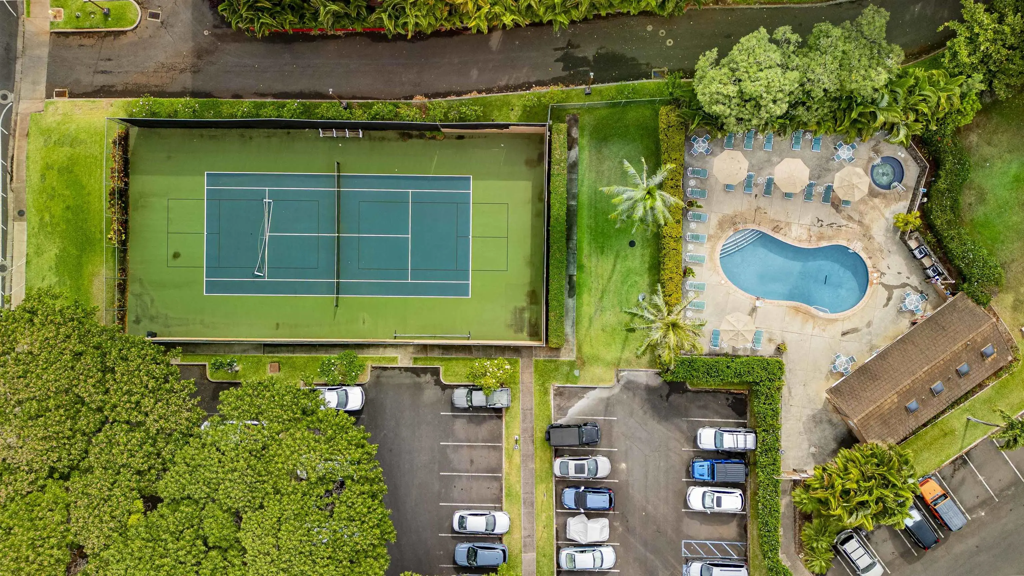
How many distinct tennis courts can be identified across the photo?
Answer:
one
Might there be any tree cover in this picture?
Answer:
Yes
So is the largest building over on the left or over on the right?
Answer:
right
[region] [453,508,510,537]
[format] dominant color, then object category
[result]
white car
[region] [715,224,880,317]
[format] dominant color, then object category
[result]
blue swimming pool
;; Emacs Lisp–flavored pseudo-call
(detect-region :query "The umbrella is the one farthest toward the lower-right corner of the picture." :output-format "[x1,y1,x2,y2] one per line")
[719,312,755,347]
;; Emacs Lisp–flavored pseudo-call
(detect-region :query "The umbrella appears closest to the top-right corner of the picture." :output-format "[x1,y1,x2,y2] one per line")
[833,167,868,201]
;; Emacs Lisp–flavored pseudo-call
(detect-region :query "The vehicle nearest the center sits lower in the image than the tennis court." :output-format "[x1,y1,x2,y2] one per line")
[452,386,512,410]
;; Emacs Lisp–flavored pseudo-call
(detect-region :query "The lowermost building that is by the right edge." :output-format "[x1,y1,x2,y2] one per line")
[823,291,1012,451]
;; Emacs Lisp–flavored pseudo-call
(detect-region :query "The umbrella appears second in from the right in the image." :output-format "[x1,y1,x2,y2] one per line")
[774,158,809,193]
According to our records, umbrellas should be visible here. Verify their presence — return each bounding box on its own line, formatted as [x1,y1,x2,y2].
[833,167,868,201]
[719,312,755,347]
[774,158,809,193]
[713,149,748,184]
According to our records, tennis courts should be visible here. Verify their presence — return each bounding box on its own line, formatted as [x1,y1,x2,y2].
[127,128,546,343]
